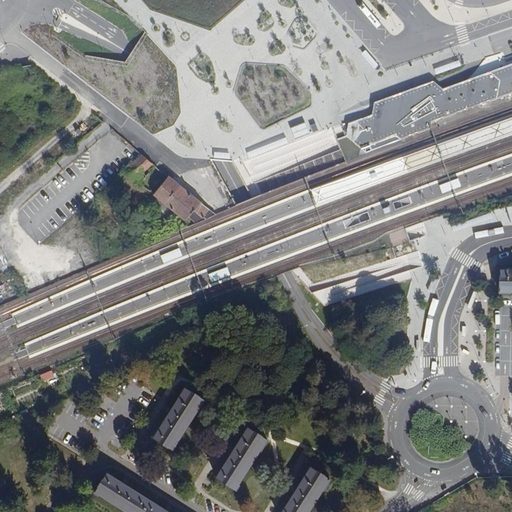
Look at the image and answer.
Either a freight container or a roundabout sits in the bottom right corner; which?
roundabout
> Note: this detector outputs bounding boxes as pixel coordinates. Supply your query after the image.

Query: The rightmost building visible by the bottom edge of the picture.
[282,468,330,512]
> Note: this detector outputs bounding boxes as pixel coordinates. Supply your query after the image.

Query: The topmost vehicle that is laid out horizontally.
[473,228,504,240]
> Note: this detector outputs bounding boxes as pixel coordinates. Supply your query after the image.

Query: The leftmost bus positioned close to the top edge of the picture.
[360,2,383,29]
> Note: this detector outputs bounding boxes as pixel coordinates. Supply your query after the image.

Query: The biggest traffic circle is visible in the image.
[388,370,498,482]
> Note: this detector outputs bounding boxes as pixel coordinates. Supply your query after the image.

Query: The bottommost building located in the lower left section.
[92,474,168,512]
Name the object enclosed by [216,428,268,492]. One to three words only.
building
